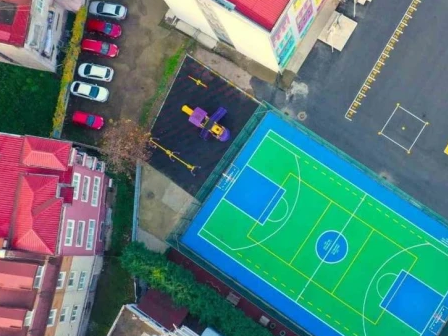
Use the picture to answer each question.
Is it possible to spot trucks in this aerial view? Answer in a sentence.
No, I find no truck anywhere in the image.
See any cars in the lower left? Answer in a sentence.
No, in the lower left there is no car.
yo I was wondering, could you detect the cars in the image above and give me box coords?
[81,38,121,59]
[87,20,124,41]
[90,0,129,22]
[71,110,107,132]
[77,63,116,83]
[71,80,111,103]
